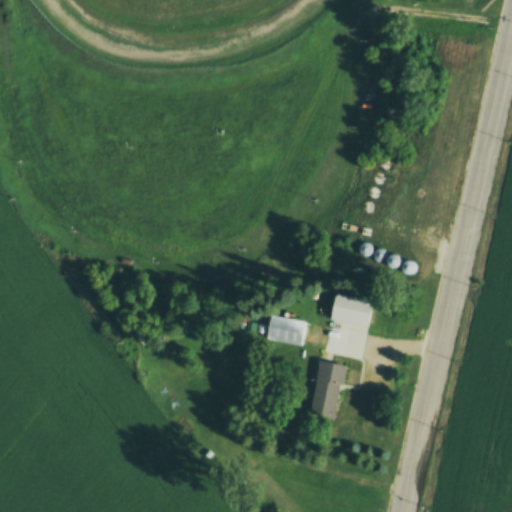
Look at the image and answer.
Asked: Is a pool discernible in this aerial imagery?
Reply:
No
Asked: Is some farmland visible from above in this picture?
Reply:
Yes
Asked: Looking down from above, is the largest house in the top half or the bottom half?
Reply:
bottom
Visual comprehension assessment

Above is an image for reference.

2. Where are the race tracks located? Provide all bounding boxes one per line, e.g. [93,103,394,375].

[31,0,330,68]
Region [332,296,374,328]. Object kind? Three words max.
building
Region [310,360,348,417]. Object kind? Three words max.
house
